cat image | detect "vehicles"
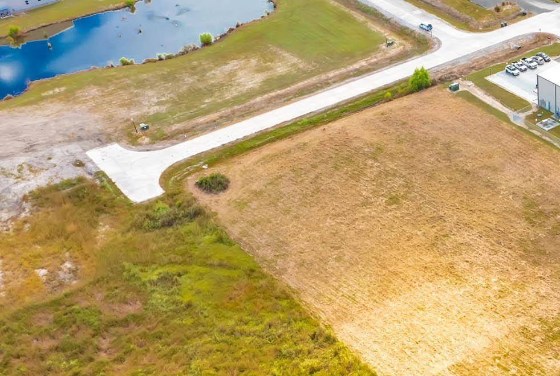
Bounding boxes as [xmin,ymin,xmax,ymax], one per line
[518,57,539,69]
[416,21,435,32]
[529,53,545,65]
[510,60,529,73]
[536,50,551,62]
[503,63,519,75]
